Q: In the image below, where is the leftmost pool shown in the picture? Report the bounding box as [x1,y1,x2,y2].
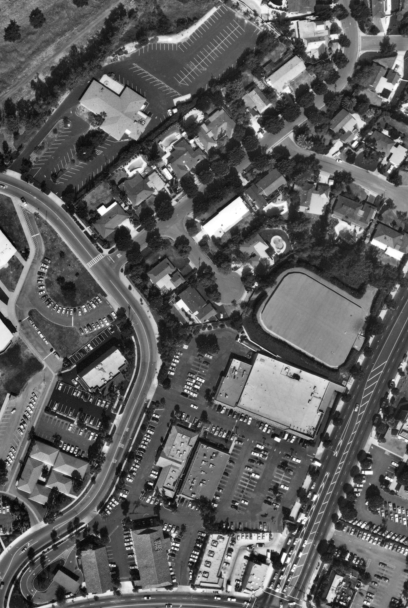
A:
[127,159,145,173]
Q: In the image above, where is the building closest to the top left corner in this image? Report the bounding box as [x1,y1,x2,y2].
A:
[78,76,152,141]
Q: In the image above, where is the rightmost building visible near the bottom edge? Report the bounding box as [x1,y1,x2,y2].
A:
[325,573,353,605]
